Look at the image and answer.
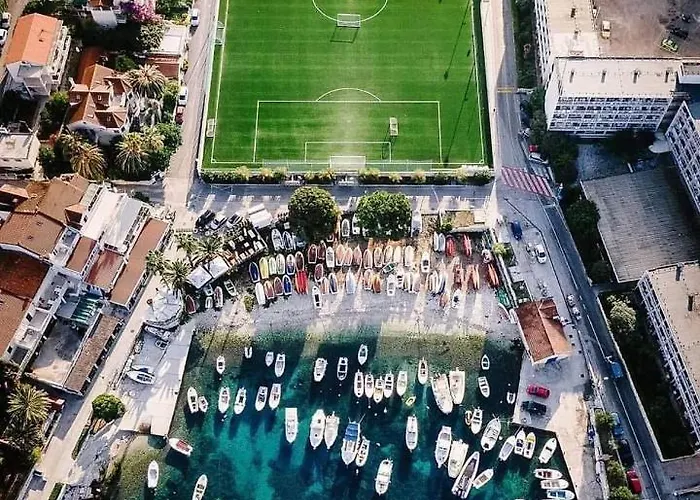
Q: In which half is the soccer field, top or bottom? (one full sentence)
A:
Seen from above, the soccer field lies in the top half of the view.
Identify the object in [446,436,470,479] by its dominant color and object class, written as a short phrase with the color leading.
white boat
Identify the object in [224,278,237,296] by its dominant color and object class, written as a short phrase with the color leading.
white boat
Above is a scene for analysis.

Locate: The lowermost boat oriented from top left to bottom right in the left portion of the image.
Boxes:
[168,437,195,458]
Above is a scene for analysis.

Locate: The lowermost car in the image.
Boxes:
[625,469,644,496]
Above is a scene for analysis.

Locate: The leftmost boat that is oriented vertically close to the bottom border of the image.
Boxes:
[146,449,159,491]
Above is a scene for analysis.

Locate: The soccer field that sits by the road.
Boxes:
[197,0,488,170]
